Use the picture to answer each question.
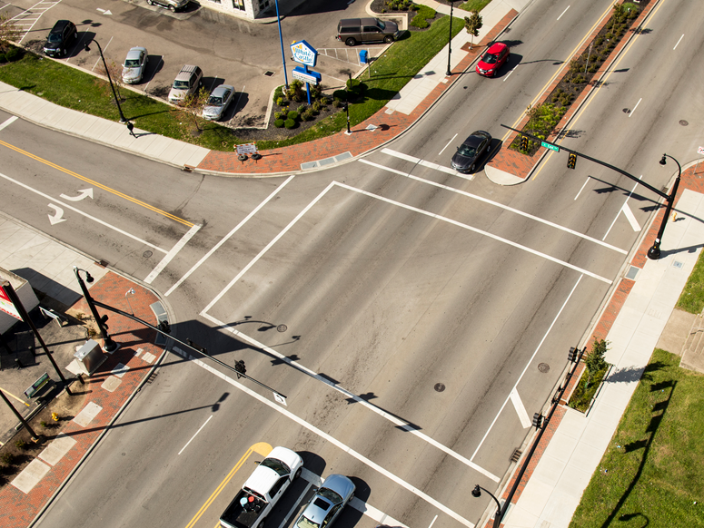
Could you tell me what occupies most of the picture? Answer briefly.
paved ground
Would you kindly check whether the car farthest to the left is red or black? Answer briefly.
black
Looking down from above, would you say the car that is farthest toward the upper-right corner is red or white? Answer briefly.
red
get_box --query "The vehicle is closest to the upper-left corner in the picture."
[40,16,77,57]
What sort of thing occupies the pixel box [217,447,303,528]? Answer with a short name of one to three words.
truck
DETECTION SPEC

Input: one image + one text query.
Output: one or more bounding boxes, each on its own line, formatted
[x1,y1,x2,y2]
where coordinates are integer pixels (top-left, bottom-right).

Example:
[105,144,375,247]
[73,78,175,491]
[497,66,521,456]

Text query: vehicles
[476,36,510,74]
[447,131,489,174]
[40,16,77,57]
[292,475,357,528]
[144,0,190,11]
[336,16,400,45]
[166,60,203,102]
[118,49,148,83]
[200,82,236,120]
[217,447,303,528]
